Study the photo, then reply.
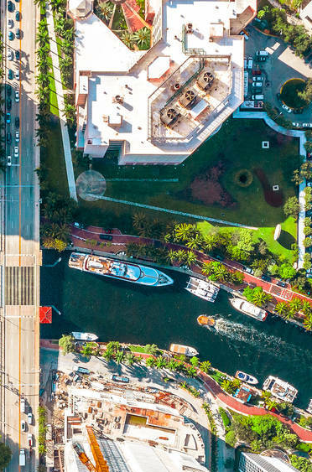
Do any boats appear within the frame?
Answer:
Yes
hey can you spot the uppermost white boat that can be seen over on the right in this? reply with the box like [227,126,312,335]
[183,275,221,301]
